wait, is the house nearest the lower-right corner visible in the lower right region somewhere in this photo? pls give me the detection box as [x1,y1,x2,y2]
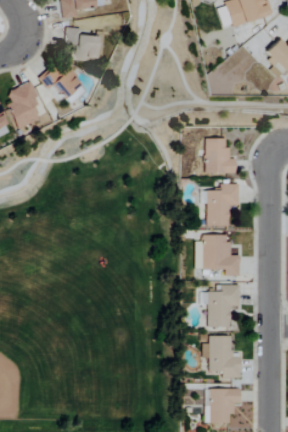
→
[203,389,242,424]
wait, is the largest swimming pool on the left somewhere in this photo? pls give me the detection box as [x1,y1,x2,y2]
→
[78,71,95,98]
